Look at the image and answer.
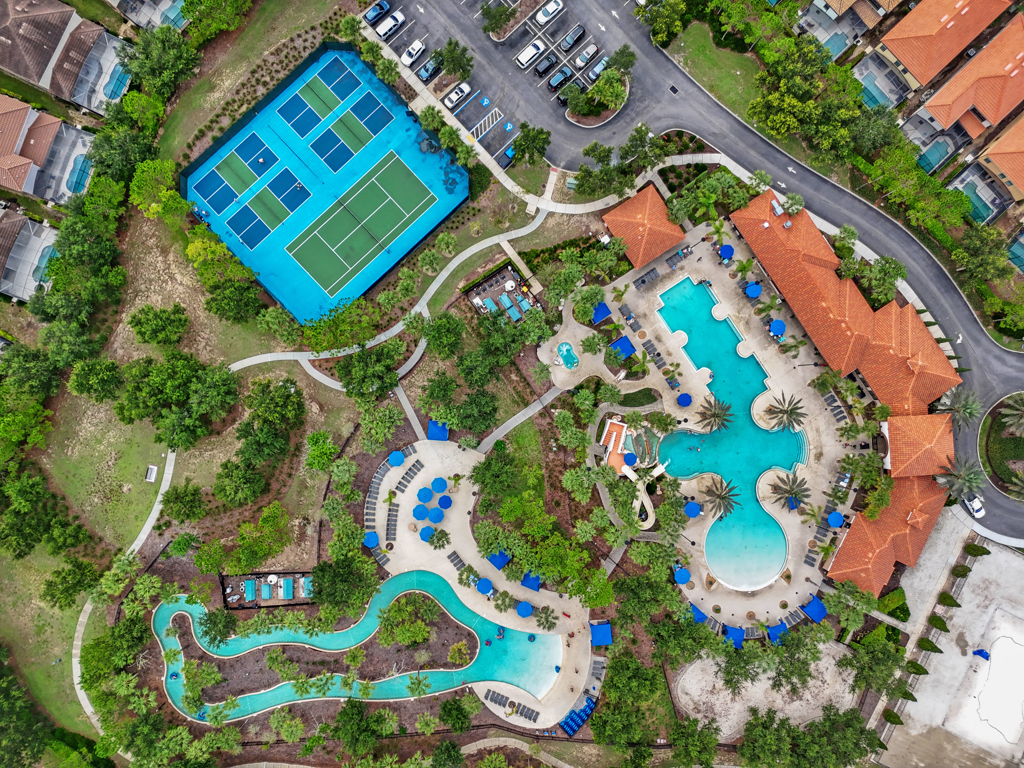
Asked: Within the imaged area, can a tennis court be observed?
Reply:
Yes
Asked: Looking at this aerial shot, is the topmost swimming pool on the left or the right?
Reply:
left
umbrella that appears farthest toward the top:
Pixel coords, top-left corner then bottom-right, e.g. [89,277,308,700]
[718,244,735,260]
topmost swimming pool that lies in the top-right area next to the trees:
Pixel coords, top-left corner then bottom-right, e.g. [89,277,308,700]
[820,30,851,66]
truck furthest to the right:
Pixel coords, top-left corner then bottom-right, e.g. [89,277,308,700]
[958,488,987,522]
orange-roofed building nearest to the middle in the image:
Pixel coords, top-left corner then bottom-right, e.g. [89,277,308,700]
[602,183,687,270]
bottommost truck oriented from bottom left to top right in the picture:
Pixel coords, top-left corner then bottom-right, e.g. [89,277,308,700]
[489,145,519,175]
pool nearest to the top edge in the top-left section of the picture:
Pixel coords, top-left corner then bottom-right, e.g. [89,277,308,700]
[159,3,184,29]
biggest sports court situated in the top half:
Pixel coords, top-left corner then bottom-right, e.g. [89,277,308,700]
[187,51,467,323]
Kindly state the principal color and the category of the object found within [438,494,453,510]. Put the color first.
blue umbrella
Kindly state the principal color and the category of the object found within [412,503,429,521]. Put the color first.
blue umbrella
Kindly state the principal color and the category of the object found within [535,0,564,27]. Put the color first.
white car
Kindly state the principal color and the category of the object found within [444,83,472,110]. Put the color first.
white car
